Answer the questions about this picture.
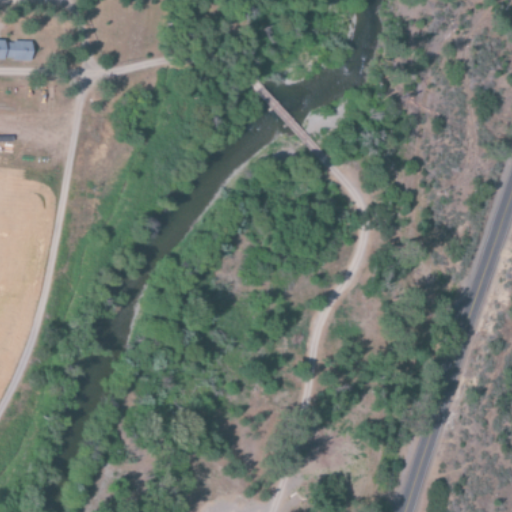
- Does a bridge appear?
Yes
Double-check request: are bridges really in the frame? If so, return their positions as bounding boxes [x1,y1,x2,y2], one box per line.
[252,78,320,156]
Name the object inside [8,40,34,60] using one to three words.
house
